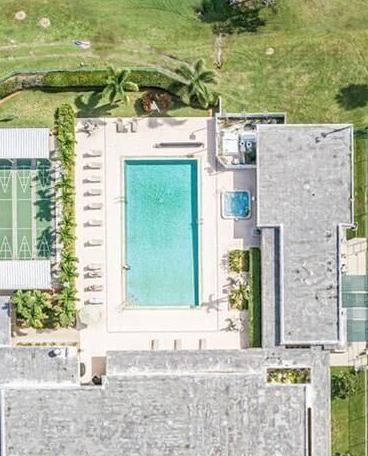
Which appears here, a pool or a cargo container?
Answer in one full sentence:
Visible in the photo is a pool.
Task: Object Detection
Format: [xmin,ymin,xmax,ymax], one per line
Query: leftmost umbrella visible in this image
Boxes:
[78,304,97,323]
